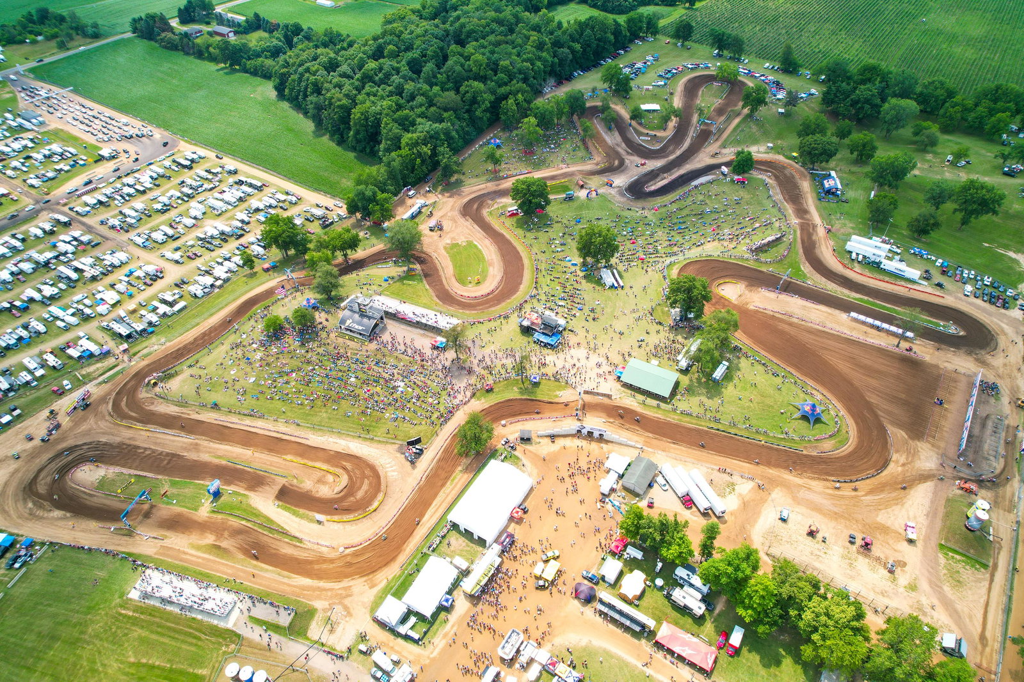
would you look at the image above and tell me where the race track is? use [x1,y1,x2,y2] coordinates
[28,70,995,580]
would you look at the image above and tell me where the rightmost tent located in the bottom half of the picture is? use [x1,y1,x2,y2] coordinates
[790,404,831,433]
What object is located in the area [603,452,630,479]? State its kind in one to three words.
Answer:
tent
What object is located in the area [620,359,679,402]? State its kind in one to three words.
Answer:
building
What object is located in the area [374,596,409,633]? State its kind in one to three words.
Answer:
tent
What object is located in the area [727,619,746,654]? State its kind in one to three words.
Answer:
vehicle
